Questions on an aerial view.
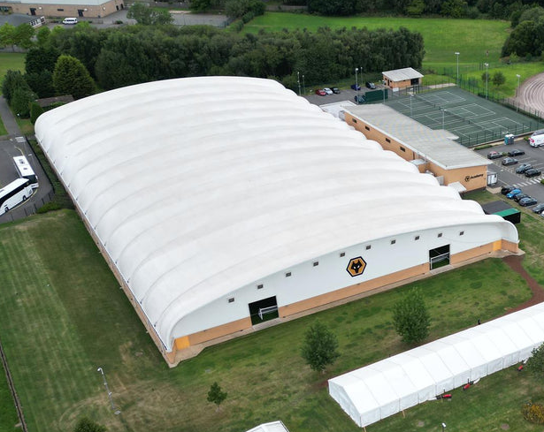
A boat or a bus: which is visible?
bus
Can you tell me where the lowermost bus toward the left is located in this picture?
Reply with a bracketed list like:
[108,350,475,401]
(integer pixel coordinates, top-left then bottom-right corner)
[0,179,40,213]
